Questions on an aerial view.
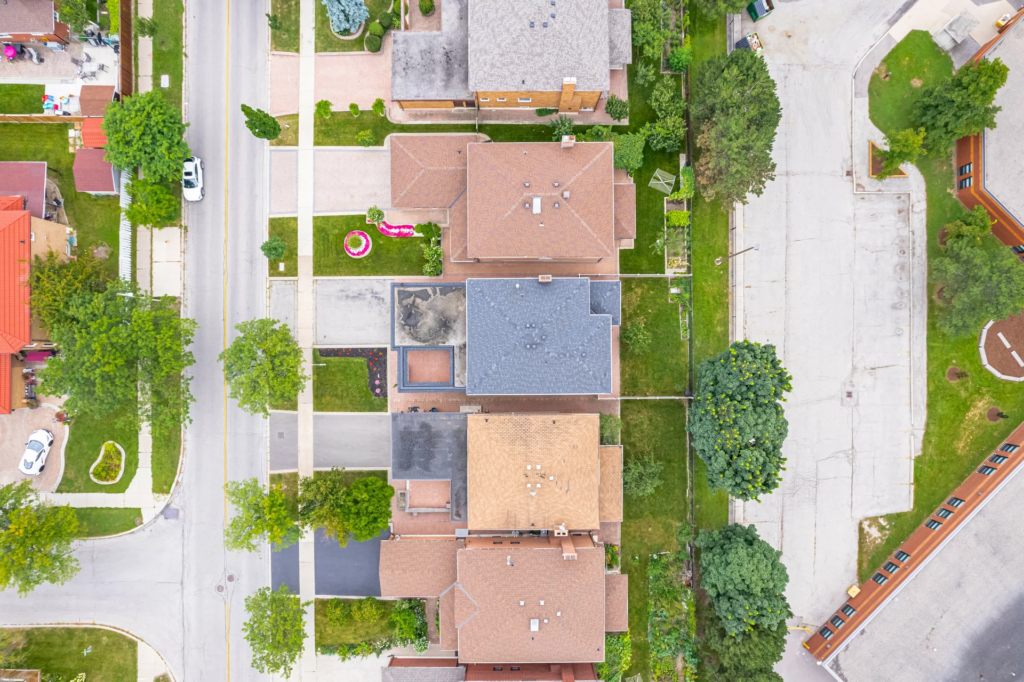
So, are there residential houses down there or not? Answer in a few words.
Yes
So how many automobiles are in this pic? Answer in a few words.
2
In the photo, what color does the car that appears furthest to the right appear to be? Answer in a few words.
white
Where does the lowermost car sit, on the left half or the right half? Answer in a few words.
left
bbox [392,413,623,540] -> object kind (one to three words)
house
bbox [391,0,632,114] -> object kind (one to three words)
house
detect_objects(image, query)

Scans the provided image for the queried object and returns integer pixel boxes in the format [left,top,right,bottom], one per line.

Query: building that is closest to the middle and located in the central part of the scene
[390,271,622,396]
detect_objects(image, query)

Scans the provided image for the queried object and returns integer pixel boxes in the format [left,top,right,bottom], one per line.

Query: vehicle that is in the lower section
[14,427,55,479]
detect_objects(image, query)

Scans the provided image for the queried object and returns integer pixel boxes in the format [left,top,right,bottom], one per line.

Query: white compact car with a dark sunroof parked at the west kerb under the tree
[178,153,205,203]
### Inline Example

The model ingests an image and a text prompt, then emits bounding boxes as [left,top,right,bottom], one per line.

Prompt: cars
[14,427,55,479]
[178,153,205,203]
